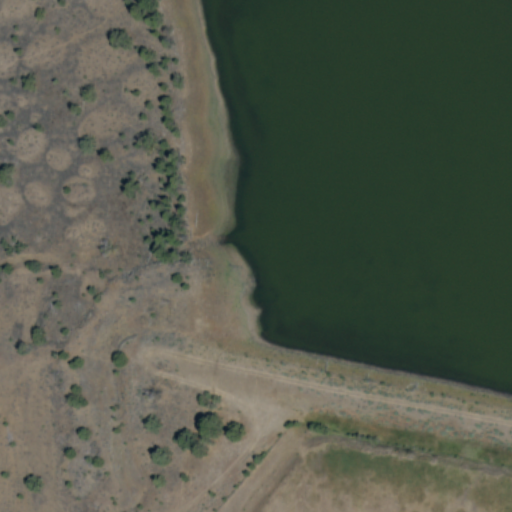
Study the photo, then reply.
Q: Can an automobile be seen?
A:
No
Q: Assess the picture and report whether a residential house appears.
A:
No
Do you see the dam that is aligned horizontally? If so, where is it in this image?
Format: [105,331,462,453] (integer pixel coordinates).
[138,336,512,446]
